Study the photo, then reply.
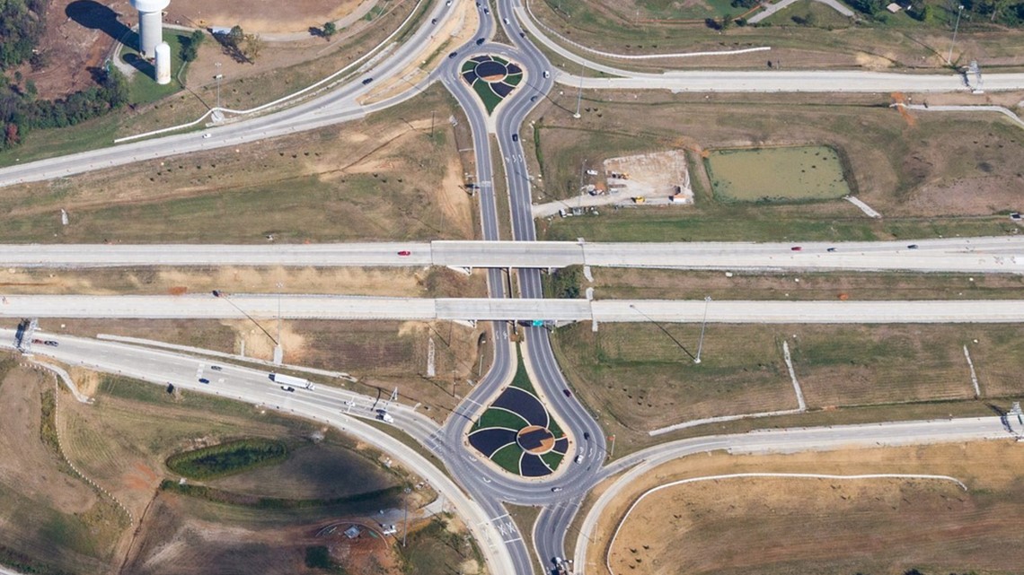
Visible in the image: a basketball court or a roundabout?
roundabout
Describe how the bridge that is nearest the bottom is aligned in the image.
from side to side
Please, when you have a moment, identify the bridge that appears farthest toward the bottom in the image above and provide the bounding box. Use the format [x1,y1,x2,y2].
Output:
[433,296,592,333]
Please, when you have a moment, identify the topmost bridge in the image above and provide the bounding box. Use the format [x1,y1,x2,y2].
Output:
[430,241,585,279]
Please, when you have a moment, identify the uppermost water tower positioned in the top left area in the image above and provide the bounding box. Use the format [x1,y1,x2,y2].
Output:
[127,0,171,60]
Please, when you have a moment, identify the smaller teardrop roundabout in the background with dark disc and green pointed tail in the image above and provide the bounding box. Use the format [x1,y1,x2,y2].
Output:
[428,38,557,135]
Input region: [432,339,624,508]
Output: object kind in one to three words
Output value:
roundabout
